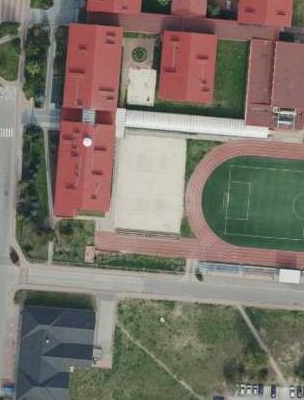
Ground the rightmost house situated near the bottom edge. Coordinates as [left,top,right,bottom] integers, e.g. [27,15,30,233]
[18,306,97,400]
